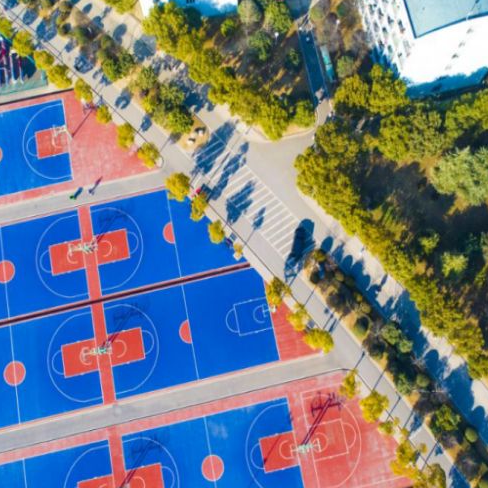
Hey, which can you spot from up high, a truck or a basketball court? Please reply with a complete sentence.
The one in the frame is a basketball court.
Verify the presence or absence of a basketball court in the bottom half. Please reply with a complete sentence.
Yes, a basketball court is visible in the bottom half.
